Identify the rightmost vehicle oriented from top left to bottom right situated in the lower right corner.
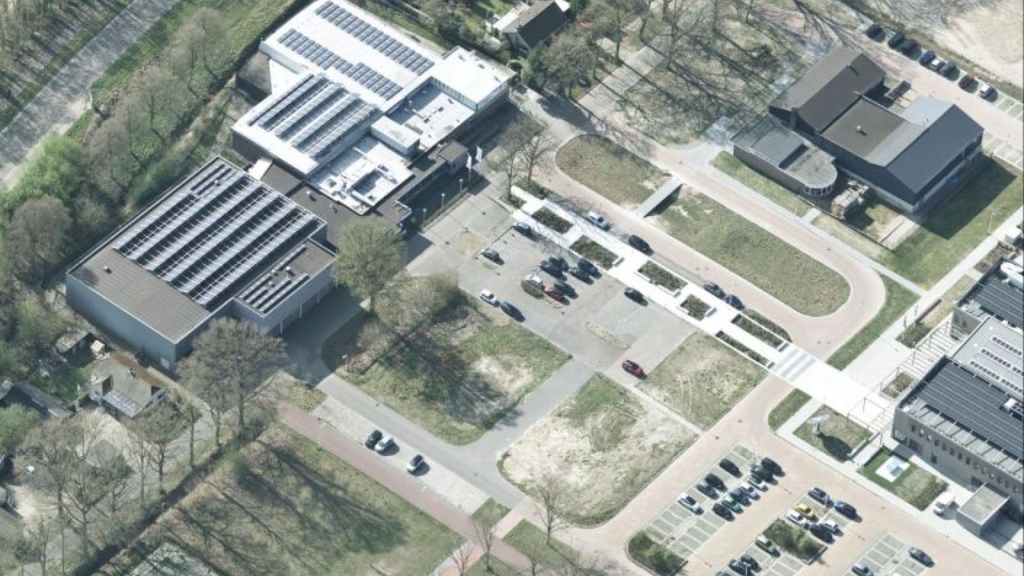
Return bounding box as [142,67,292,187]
[907,546,934,567]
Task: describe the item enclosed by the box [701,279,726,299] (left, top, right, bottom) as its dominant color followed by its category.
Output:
gray car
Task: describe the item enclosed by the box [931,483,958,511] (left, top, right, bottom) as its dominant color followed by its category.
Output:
white vehicle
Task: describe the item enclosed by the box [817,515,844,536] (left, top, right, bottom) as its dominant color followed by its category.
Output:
white car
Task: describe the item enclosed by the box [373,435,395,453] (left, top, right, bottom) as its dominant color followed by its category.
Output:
white car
